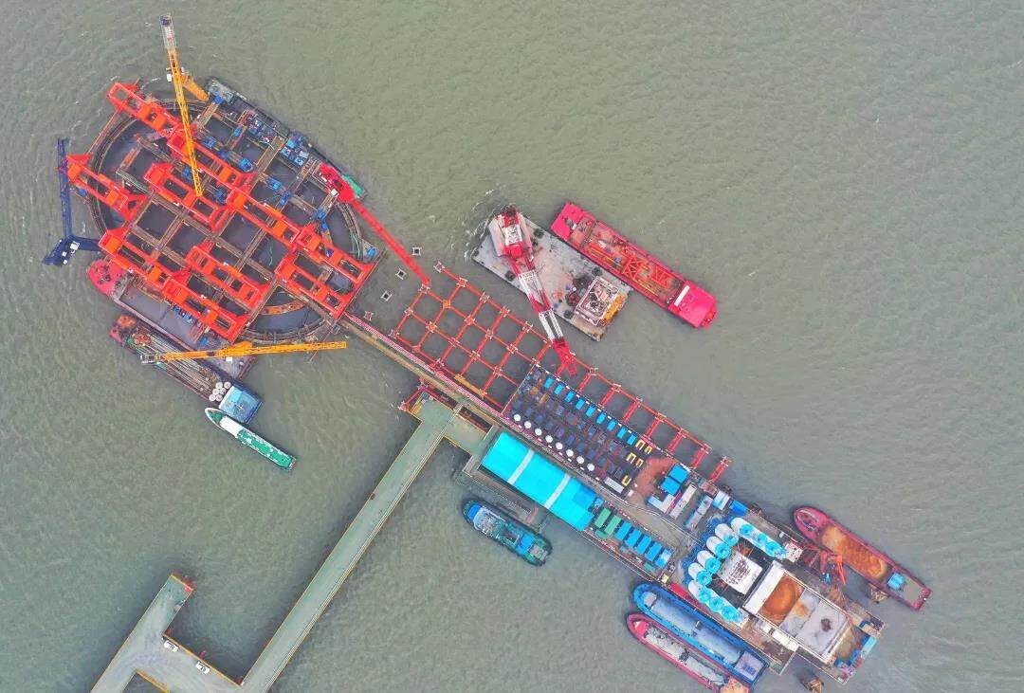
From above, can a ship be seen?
Yes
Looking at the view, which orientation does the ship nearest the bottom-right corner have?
diagonally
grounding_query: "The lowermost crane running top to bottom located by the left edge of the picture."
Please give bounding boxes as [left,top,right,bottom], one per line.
[41,138,103,268]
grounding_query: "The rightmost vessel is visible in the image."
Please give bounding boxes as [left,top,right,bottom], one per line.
[792,508,936,613]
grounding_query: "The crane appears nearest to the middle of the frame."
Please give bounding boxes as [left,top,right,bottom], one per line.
[497,203,583,387]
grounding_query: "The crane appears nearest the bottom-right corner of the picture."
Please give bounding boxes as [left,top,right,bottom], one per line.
[803,543,846,588]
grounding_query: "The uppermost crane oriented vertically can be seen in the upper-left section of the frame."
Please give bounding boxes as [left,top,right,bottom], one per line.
[159,17,216,195]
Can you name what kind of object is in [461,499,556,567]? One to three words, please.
boat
